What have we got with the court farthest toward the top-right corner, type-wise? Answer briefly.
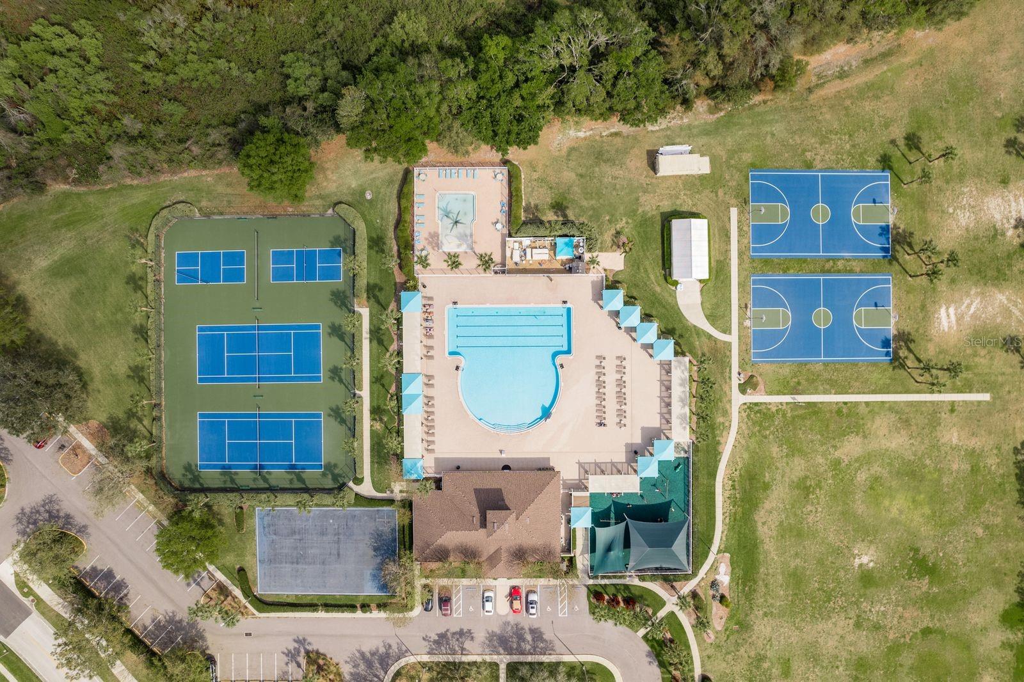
basketball court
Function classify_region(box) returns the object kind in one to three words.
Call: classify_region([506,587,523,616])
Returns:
car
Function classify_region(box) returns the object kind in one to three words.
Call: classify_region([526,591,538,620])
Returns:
vehicle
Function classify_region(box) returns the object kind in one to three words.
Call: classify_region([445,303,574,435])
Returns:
swimming pool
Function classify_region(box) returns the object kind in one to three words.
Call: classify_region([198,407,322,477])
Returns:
tennis court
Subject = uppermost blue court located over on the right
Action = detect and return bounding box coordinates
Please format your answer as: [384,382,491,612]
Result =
[750,170,891,258]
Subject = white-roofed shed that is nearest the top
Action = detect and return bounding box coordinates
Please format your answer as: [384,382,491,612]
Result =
[654,154,710,179]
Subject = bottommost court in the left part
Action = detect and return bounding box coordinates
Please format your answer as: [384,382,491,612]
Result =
[256,508,398,595]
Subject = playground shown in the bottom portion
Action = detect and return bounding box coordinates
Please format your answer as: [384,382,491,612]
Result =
[590,457,690,573]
